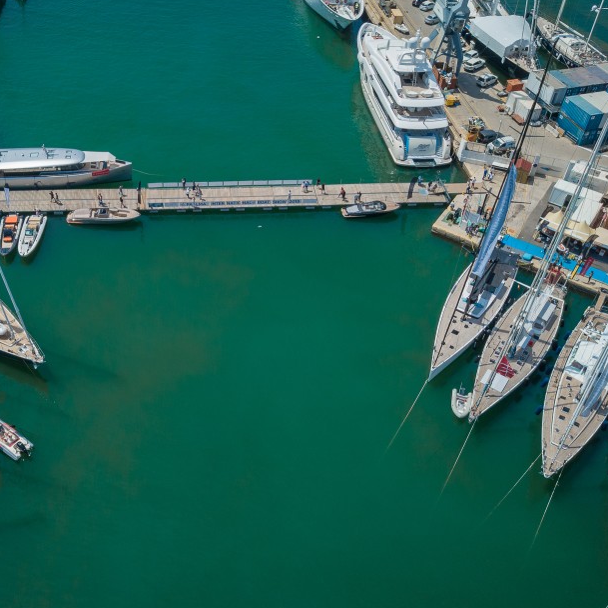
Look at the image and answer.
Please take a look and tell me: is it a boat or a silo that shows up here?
boat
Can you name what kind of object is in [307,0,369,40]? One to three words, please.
boat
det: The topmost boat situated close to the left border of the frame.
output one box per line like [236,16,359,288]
[0,149,162,193]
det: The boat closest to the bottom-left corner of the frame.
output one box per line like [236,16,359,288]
[0,417,38,465]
